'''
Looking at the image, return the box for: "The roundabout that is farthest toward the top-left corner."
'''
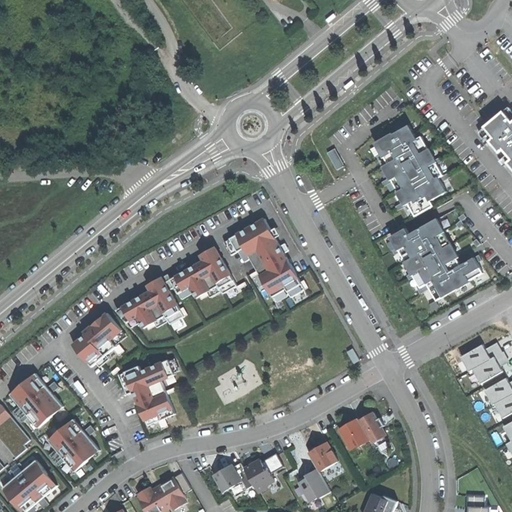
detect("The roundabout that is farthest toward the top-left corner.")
[225,98,279,152]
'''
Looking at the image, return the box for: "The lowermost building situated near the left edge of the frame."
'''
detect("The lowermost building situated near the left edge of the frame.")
[2,461,62,512]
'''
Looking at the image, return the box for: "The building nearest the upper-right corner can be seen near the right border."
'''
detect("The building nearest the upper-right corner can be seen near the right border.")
[475,108,512,172]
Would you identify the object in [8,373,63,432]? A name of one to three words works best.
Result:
house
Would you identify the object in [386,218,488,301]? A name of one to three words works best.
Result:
building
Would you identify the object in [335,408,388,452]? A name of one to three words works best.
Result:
house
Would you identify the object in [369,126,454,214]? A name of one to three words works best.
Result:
building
